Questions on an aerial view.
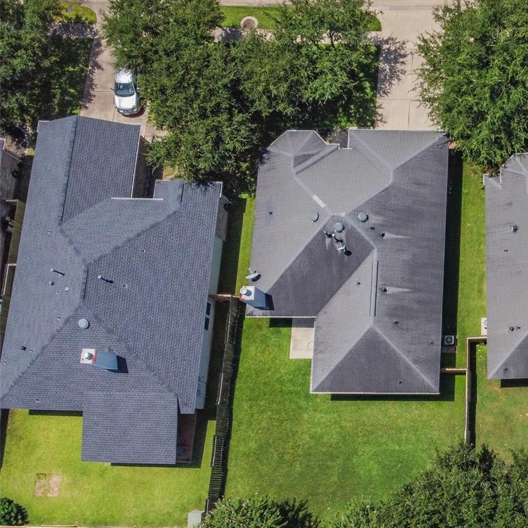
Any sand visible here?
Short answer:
No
